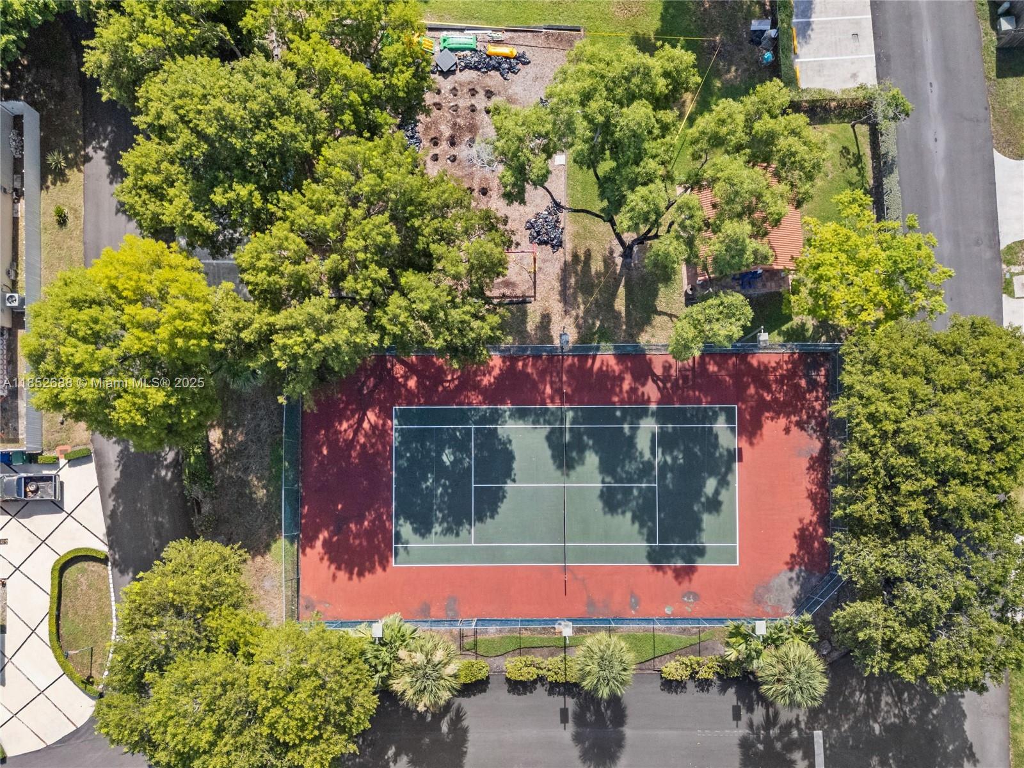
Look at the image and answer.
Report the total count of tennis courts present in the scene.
1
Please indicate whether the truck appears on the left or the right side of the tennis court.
to its left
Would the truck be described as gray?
Yes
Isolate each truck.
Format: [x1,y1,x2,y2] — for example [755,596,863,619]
[0,472,68,505]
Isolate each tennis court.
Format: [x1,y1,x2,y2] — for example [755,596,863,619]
[299,353,831,619]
